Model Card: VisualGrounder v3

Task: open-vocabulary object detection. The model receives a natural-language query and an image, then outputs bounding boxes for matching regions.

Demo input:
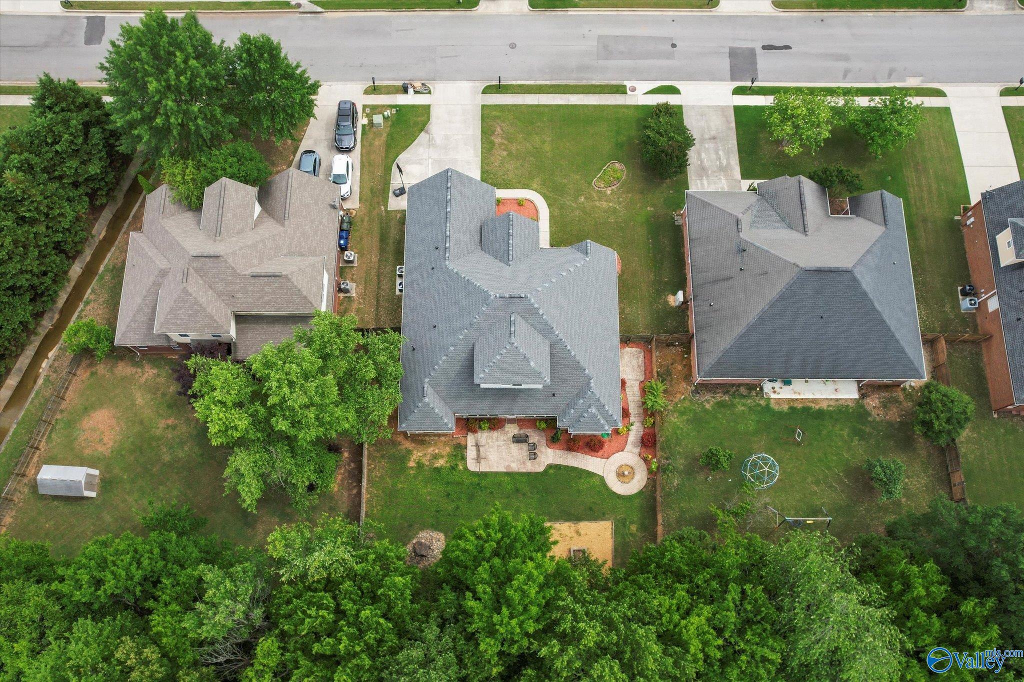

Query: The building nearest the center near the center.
[397,168,622,440]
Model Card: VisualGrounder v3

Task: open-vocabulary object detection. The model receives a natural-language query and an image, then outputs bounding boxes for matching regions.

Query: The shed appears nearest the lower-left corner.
[36,464,102,497]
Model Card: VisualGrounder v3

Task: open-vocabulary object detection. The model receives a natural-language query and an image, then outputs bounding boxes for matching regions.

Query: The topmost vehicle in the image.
[333,105,358,152]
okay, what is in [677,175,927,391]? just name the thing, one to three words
house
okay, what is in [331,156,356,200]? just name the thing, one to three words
car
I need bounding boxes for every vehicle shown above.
[333,105,358,152]
[301,148,324,178]
[331,156,356,200]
